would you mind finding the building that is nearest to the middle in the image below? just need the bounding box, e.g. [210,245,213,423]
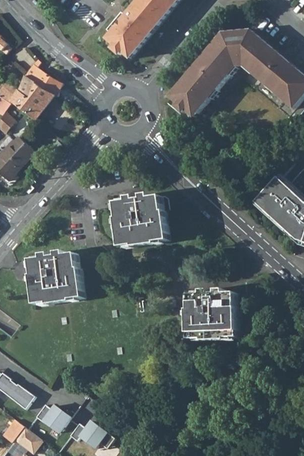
[108,192,170,251]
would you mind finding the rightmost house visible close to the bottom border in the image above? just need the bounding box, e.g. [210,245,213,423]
[78,420,108,449]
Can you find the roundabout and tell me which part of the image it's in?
top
